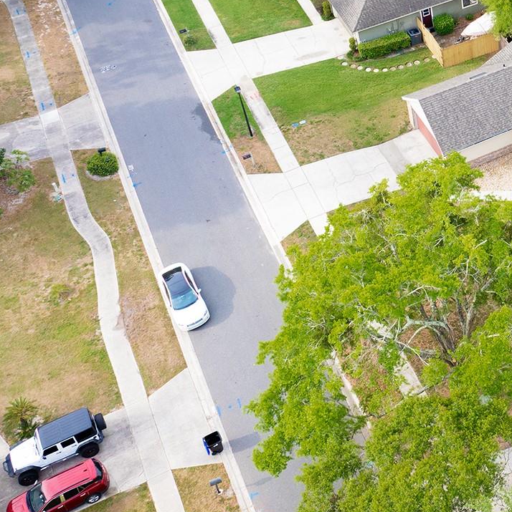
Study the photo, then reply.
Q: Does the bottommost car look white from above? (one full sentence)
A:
No, the color of the bottommost car is red.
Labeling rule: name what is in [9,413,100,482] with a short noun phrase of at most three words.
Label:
car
